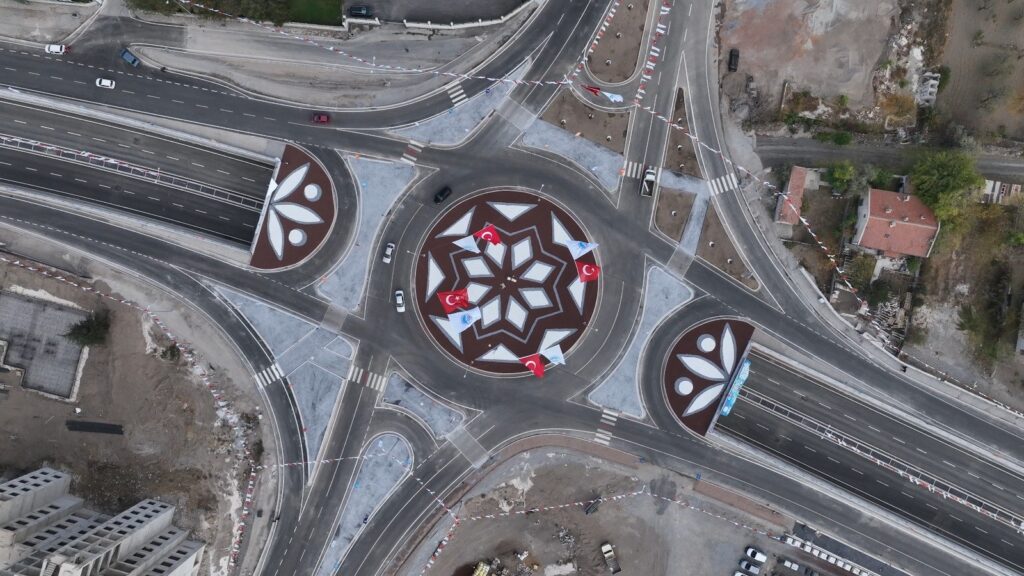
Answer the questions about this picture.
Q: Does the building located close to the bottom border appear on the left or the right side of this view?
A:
left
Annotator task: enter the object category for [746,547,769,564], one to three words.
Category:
car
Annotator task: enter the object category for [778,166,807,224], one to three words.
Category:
shed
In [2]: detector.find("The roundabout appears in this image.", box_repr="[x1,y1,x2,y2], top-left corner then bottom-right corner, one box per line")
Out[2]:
[411,186,603,378]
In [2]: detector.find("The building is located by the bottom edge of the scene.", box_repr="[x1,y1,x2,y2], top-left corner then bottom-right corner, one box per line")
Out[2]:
[0,468,205,576]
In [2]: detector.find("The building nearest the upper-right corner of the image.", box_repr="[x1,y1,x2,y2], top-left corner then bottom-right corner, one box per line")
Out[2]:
[914,72,941,107]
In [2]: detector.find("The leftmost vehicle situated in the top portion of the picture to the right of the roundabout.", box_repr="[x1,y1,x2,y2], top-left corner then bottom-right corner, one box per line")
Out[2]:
[641,167,657,197]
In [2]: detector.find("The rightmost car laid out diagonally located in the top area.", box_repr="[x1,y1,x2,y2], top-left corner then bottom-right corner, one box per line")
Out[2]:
[432,185,453,204]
